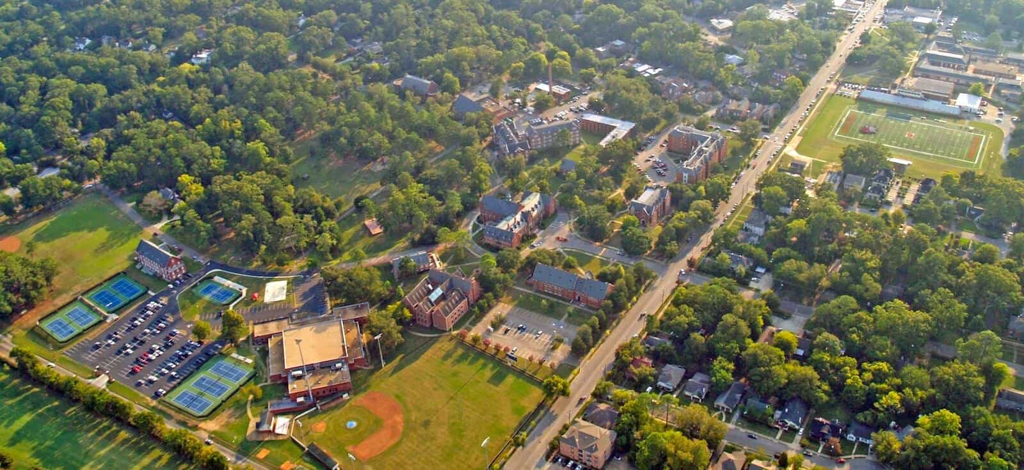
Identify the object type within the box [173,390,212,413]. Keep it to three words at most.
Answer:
tennis court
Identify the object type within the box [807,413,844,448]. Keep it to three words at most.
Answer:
house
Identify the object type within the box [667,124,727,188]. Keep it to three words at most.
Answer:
building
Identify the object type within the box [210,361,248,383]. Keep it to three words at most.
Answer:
tennis court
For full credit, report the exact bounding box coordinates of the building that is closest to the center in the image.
[475,188,557,255]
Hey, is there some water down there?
No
